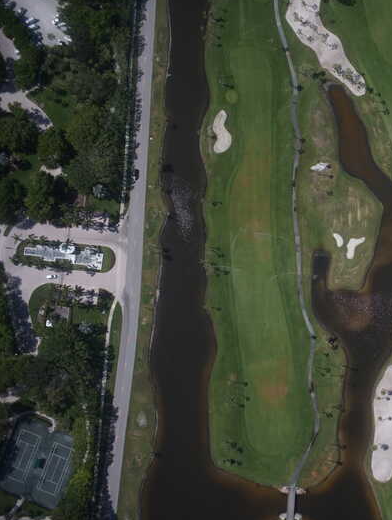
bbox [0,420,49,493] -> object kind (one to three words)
tennis court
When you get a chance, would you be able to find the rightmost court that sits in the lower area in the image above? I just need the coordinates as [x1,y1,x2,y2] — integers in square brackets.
[30,432,80,506]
